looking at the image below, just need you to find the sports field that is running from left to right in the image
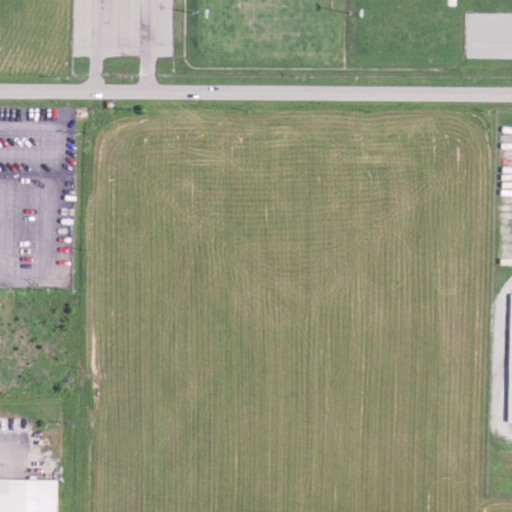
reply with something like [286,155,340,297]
[188,0,344,68]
